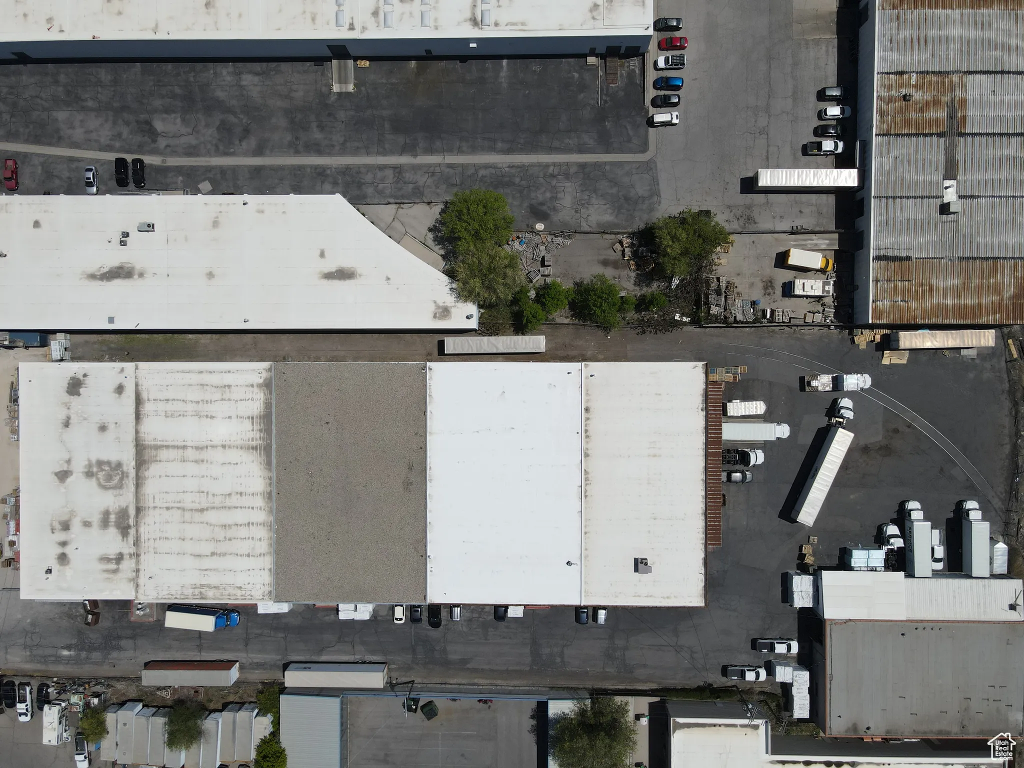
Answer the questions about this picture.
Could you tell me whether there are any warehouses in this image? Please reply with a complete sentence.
Yes, you can see a warehouse in this photo.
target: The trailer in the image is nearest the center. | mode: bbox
[444,335,545,354]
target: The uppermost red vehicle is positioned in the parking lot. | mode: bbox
[657,36,688,52]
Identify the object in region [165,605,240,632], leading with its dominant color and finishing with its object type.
white truck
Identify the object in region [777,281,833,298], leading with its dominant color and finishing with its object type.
white camper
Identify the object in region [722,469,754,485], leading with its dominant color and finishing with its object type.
gray vehicle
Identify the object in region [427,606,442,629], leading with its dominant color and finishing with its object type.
black car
